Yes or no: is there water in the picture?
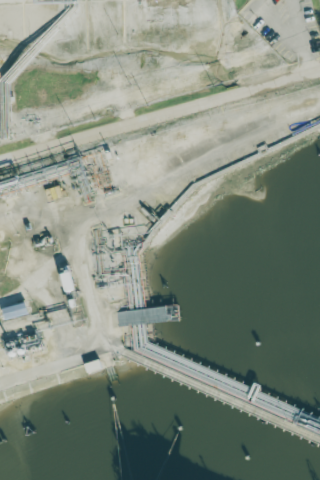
Yes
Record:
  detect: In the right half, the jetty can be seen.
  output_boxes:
[108,341,320,442]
